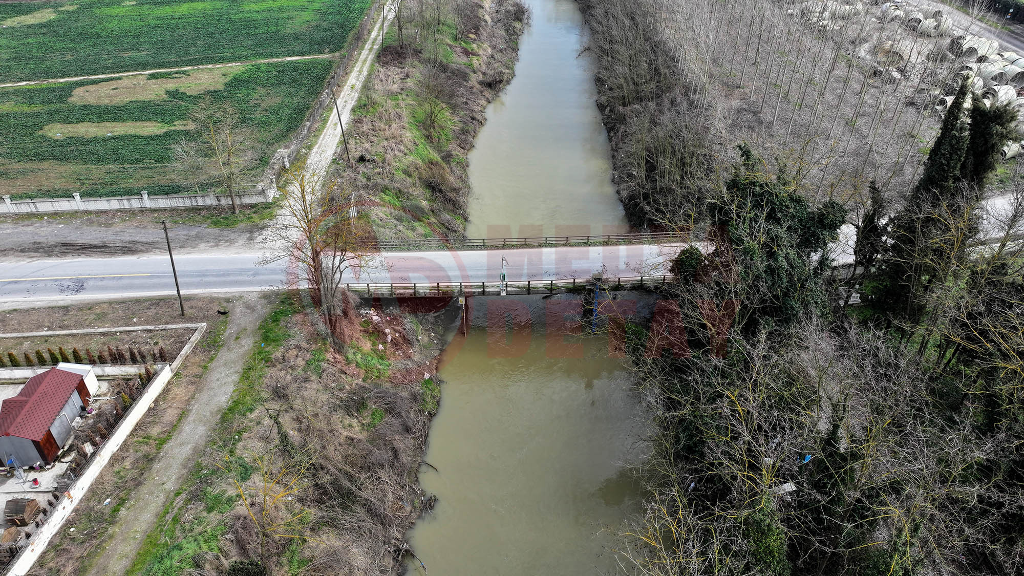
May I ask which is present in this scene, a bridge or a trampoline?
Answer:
bridge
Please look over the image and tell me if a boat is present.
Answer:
No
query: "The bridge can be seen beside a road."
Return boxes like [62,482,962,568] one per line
[348,228,717,315]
